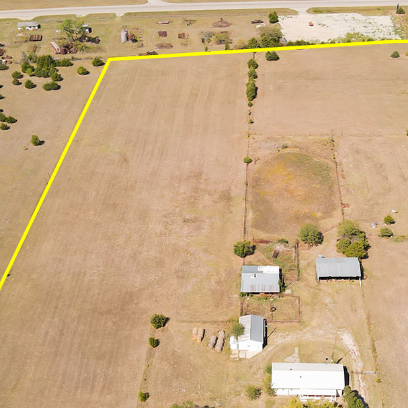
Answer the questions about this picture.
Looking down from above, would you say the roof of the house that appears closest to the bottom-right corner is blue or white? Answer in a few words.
white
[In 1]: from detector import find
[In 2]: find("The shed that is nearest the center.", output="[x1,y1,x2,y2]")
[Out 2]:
[240,266,280,298]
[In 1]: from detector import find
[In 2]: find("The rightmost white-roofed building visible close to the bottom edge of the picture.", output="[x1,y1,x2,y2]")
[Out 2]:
[271,363,345,404]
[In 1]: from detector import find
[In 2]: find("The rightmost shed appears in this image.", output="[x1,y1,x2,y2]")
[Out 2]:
[317,258,360,287]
